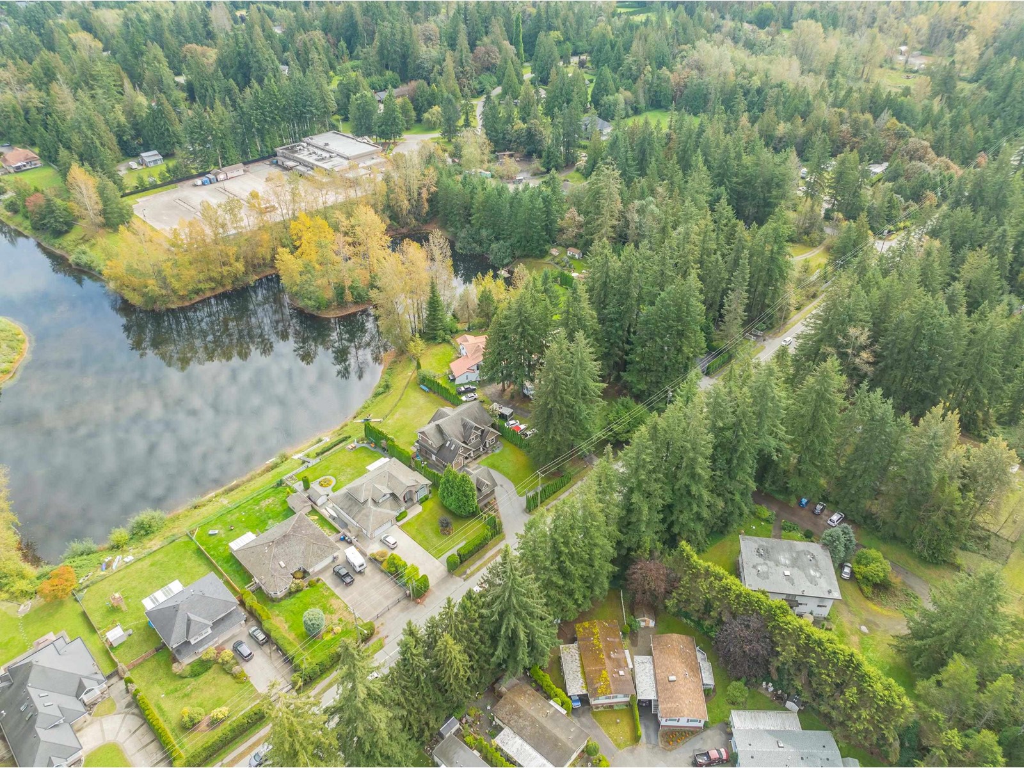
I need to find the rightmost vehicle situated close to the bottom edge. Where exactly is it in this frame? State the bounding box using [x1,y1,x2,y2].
[694,745,732,764]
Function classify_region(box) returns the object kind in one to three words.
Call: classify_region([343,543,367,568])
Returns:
vehicle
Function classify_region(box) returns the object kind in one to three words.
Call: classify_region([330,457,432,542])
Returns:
house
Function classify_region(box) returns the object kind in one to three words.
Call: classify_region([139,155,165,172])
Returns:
barn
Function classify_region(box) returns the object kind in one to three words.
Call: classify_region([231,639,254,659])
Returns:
car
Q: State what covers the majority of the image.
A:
trees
